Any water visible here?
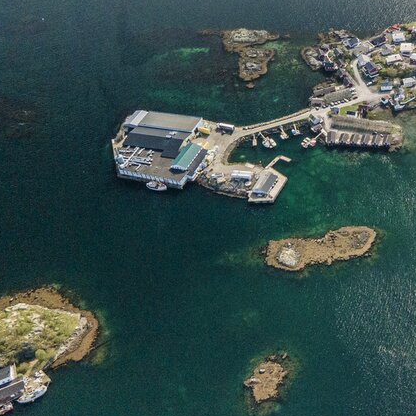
Yes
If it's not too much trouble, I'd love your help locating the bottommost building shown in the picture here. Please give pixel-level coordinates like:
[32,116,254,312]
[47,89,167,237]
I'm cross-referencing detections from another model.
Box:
[0,376,24,409]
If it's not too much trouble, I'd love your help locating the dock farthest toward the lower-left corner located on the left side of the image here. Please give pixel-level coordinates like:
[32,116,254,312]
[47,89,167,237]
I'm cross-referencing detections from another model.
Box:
[18,370,52,403]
